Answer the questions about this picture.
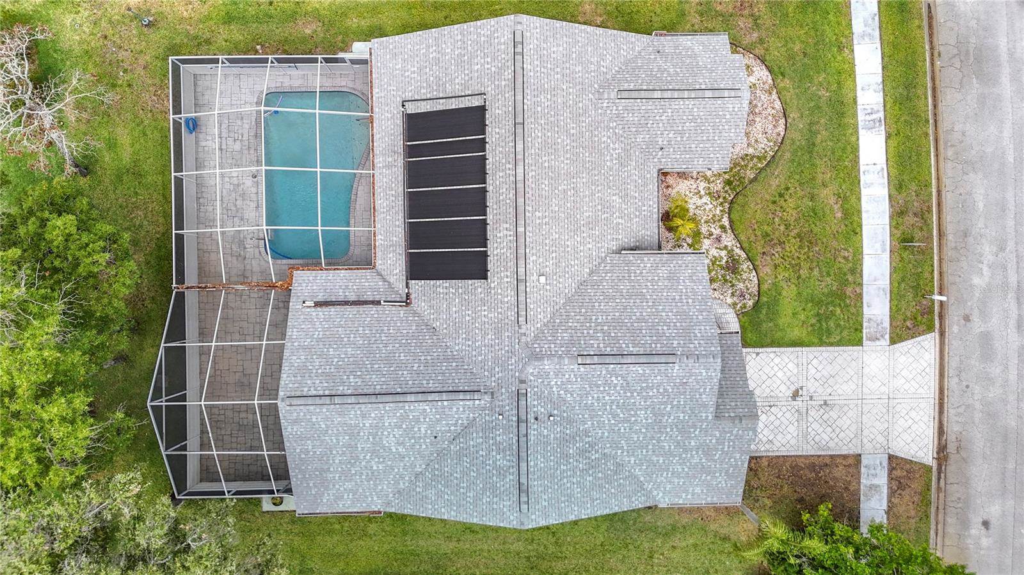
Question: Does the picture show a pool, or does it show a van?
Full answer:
Looking from above, you can make out a pool.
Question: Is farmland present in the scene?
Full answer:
No, the picture contains no farmland.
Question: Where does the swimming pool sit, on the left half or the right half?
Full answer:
The swimming pool is on the left side of the image.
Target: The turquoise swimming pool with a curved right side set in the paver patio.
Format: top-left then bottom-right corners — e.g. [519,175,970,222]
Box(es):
[265,91,369,259]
